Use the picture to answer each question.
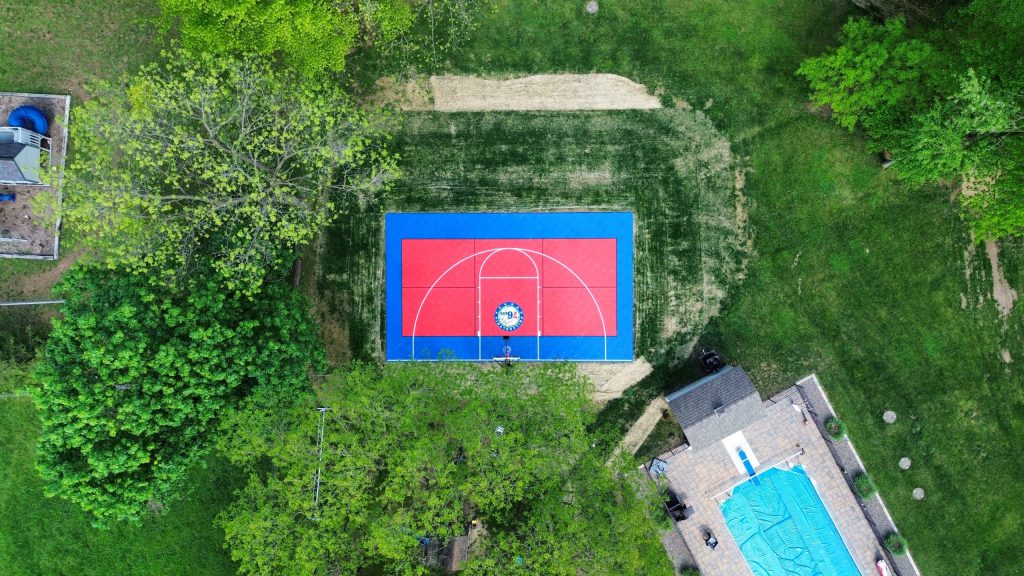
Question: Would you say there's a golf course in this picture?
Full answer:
No, I find no golf course anywhere in the image.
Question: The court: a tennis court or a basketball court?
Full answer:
From above, the court can be identified as a basketball court.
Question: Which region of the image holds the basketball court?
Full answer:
You can find the basketball court in the center area of the picture.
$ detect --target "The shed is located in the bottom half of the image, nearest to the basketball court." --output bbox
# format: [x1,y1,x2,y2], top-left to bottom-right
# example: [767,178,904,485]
[666,362,767,451]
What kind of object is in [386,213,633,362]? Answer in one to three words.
basketball court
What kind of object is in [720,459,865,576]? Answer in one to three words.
swimming pool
